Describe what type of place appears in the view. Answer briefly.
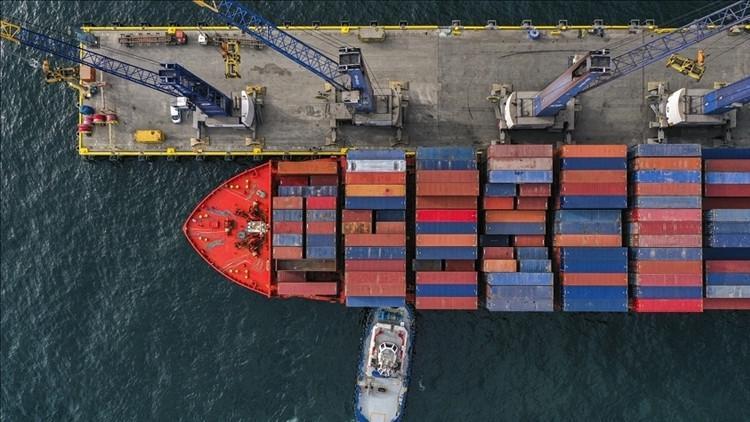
port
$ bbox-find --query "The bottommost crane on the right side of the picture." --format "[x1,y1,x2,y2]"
[650,75,750,146]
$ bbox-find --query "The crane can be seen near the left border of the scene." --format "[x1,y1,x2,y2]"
[0,15,274,149]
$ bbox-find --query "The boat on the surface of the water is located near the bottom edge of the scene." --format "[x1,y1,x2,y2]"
[351,304,418,422]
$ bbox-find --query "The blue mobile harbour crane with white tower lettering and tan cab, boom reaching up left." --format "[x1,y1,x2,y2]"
[176,0,411,145]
